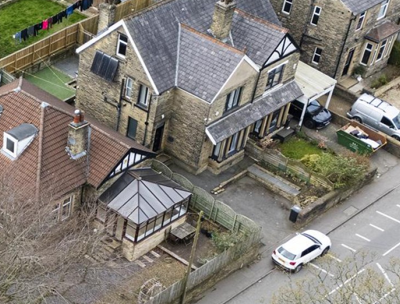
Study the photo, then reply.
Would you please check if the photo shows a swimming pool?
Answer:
No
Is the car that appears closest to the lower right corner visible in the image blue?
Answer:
No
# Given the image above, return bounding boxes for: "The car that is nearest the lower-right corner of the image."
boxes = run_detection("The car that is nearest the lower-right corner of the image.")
[269,229,333,274]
